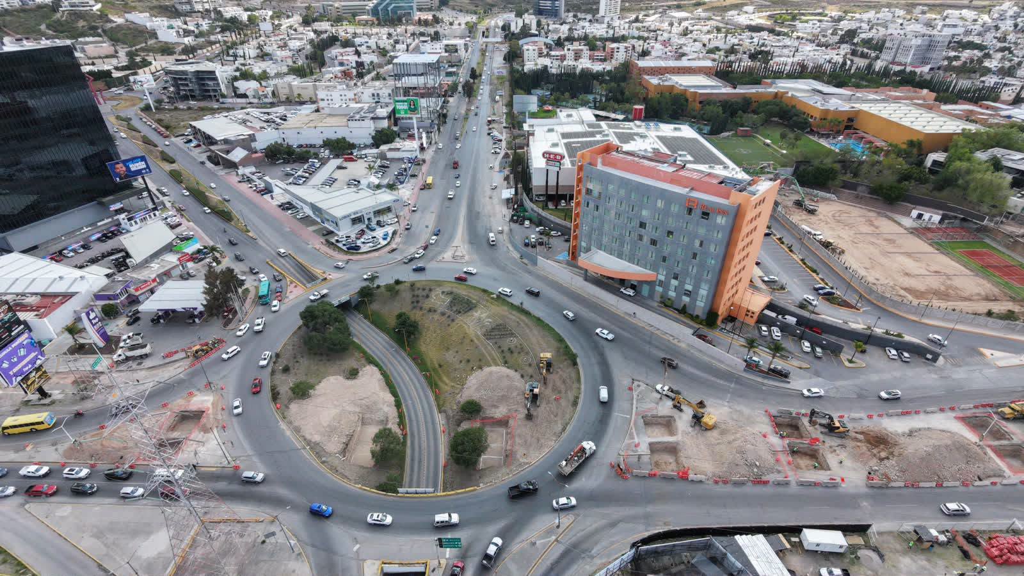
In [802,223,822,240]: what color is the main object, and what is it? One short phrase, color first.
white vehicle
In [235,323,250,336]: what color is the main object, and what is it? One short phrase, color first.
white vehicle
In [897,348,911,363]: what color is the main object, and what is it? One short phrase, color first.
gray car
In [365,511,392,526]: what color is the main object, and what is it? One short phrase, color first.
white car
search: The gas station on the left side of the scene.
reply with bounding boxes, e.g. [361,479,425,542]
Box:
[139,280,207,324]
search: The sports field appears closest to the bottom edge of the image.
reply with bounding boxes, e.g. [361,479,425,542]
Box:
[779,192,1024,324]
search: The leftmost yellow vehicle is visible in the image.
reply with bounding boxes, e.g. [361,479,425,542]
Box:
[0,414,57,435]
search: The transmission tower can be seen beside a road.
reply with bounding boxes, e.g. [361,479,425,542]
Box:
[72,364,258,576]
